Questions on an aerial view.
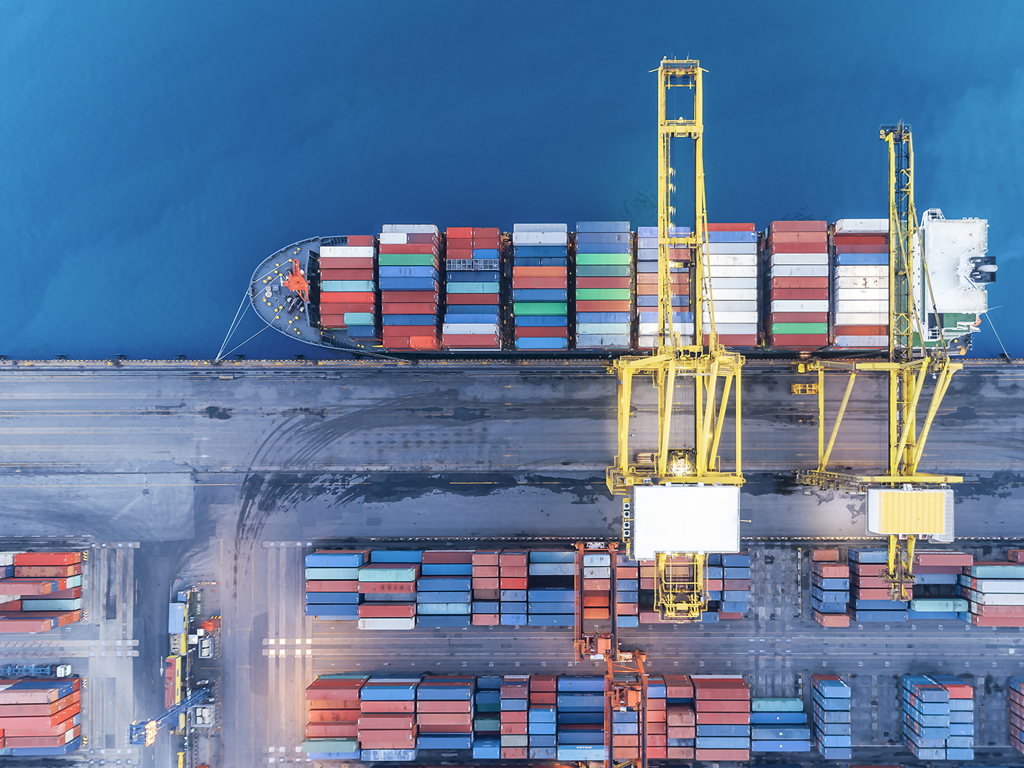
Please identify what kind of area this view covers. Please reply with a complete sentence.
The area seen from above is a port.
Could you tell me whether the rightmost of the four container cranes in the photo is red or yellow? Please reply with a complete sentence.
The rightmost of the four container cranes looks yellow in the image.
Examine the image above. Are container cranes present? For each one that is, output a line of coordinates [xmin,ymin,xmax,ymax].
[602,652,649,768]
[792,119,966,600]
[601,54,751,622]
[573,542,621,665]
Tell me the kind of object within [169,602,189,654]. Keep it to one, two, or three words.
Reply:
building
